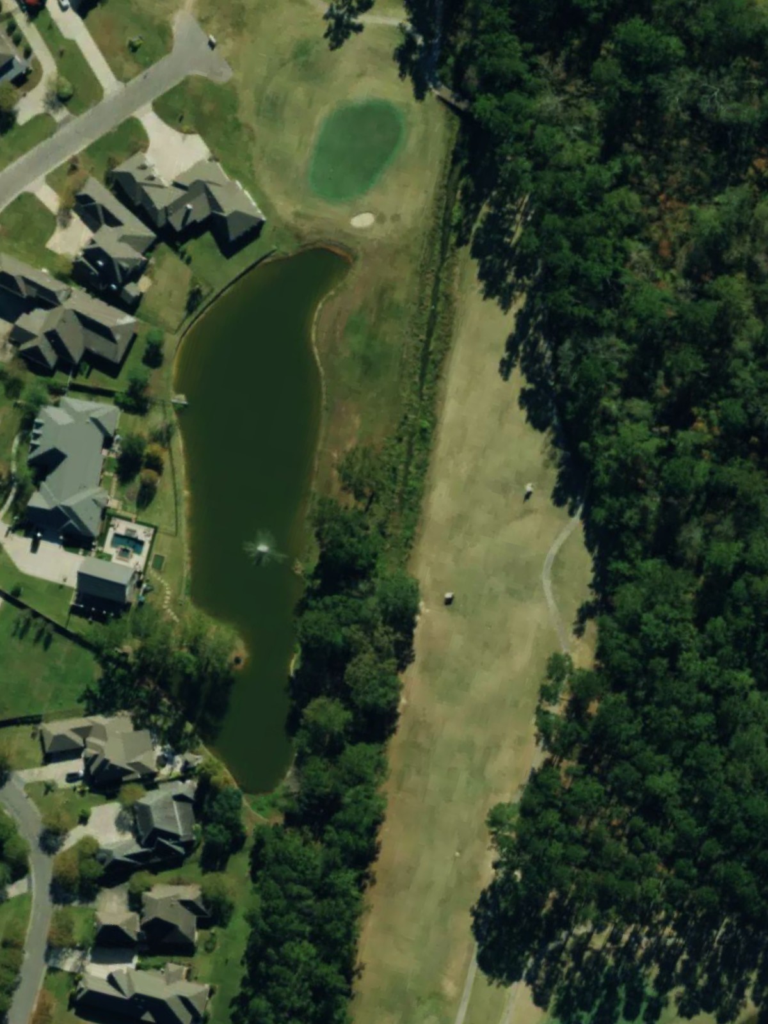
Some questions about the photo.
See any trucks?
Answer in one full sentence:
No, no truck is visible in the scene.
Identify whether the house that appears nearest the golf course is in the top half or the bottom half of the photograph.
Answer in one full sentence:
You can find the house that appears nearest the golf course in the top half.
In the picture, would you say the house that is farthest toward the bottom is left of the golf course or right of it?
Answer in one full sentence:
Looking at the picture, you'll find the house that is farthest toward the bottom to the left of the golf course.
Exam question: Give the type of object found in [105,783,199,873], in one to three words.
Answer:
house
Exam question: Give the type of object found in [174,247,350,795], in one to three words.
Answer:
pond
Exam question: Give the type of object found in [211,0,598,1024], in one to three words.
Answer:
golf course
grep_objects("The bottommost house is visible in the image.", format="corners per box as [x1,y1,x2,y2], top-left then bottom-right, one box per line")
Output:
[74,964,207,1024]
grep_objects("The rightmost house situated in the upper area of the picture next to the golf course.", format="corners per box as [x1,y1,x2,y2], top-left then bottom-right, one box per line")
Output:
[113,150,265,244]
